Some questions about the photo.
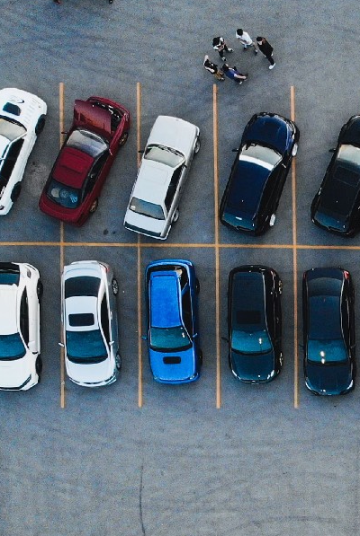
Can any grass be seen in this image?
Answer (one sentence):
No, there is no grass in the image.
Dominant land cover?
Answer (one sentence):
What you mostly see from above here is paved ground.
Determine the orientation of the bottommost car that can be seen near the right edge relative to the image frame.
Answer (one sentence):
I'd say the bottommost car that can be seen near the right edge is aligned vertically in the picture.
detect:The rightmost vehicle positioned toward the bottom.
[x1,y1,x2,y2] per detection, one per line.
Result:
[296,266,359,397]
